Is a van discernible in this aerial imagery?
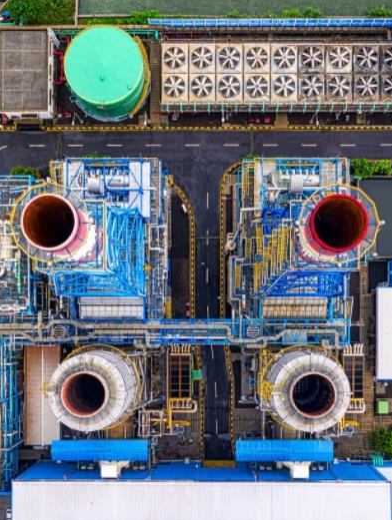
No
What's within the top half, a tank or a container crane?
tank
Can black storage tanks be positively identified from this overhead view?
No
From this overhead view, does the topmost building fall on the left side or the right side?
left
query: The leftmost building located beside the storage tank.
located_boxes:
[0,28,57,122]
